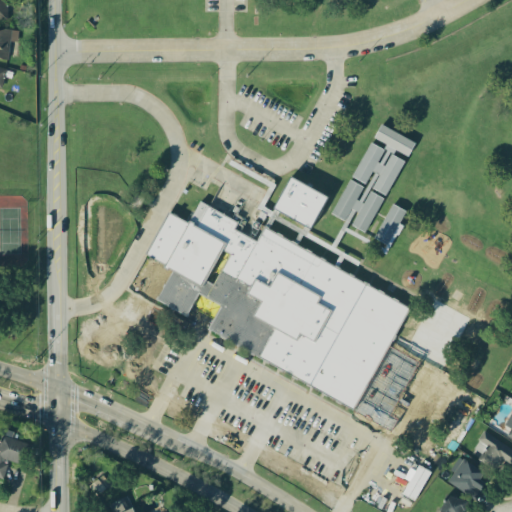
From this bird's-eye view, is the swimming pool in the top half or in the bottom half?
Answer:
bottom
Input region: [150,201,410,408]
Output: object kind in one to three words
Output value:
building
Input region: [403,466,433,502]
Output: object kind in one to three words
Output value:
building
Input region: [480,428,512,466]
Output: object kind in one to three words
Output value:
house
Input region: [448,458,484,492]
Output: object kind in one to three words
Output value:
house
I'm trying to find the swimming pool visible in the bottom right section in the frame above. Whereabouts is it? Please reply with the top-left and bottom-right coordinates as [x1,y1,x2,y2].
[490,397,512,436]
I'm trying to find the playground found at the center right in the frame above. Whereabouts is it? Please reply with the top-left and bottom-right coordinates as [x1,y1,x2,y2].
[410,232,452,269]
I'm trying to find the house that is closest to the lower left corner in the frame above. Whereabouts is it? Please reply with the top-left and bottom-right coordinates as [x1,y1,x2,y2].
[0,437,29,478]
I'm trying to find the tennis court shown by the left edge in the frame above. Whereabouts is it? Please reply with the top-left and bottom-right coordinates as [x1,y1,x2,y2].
[0,196,28,268]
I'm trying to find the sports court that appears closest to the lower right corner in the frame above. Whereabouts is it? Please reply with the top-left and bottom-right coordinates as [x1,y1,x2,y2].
[413,302,470,366]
